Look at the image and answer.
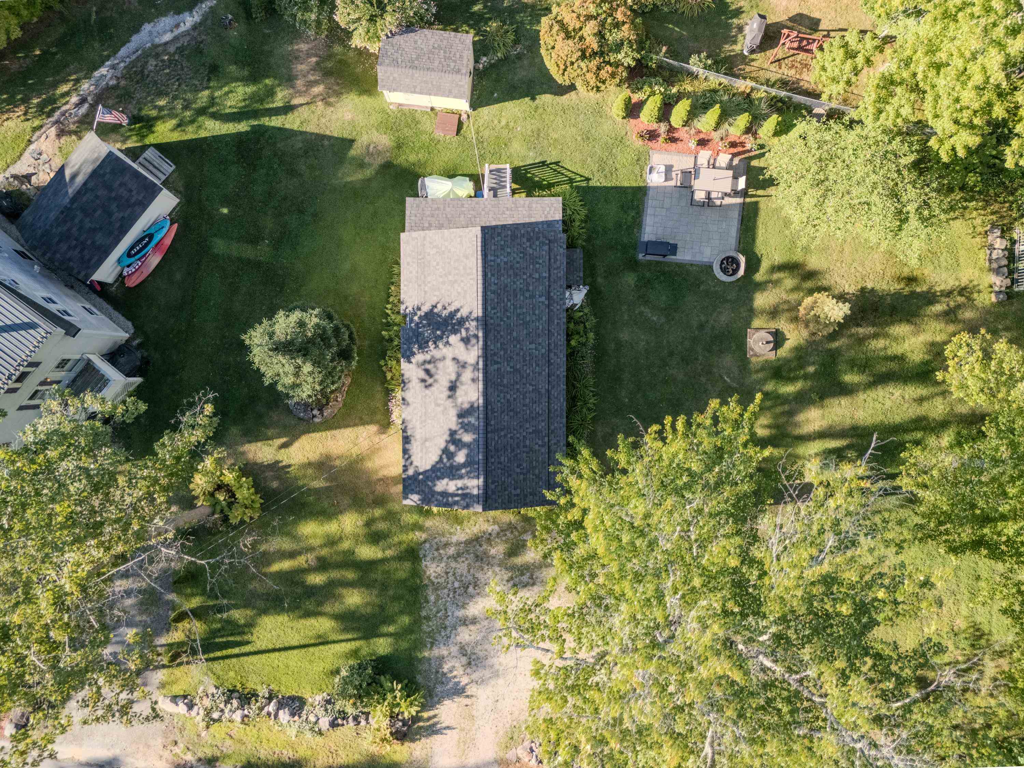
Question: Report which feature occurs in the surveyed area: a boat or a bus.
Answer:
boat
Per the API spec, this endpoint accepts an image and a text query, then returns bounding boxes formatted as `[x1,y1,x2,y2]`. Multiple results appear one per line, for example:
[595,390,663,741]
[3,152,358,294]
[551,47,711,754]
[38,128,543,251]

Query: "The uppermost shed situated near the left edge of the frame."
[13,128,179,283]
